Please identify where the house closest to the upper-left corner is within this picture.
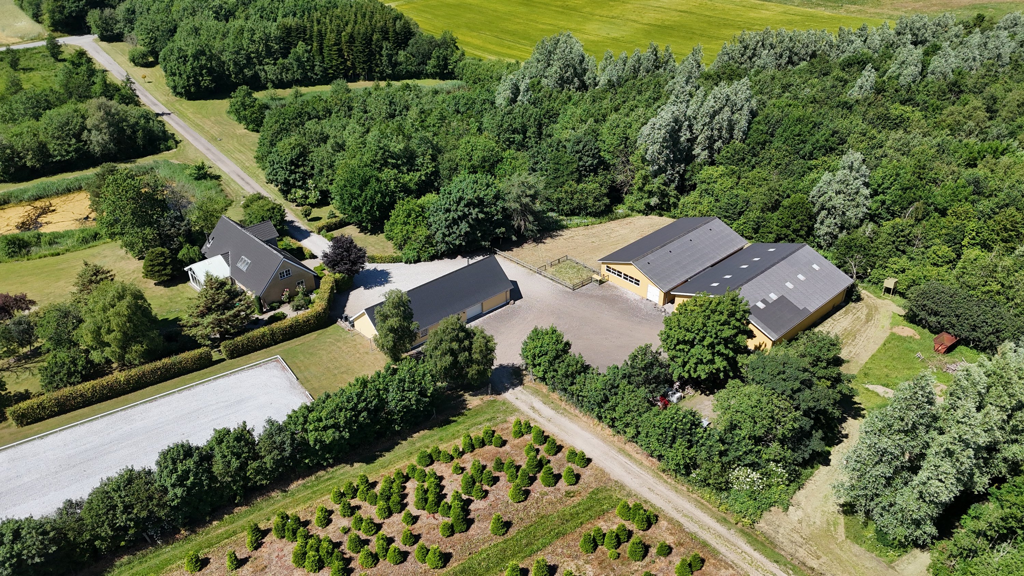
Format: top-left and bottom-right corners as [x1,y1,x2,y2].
[184,218,318,314]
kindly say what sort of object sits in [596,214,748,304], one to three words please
barn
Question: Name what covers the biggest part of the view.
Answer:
trees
